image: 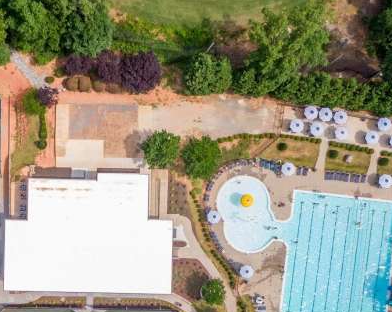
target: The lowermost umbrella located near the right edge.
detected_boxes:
[376,174,390,188]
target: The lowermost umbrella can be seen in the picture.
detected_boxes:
[238,264,252,278]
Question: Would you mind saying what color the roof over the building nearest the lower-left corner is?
white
